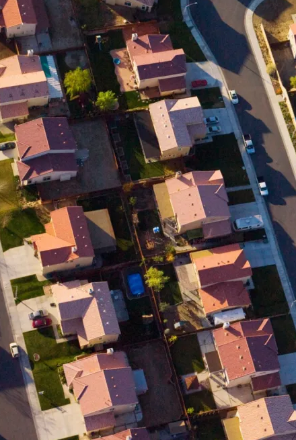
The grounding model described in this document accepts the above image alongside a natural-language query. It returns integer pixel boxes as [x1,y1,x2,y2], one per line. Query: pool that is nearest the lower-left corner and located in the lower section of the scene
[127,271,146,296]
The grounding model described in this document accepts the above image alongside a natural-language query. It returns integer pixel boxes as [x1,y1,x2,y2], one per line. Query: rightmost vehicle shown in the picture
[256,177,269,197]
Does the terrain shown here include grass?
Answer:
Yes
